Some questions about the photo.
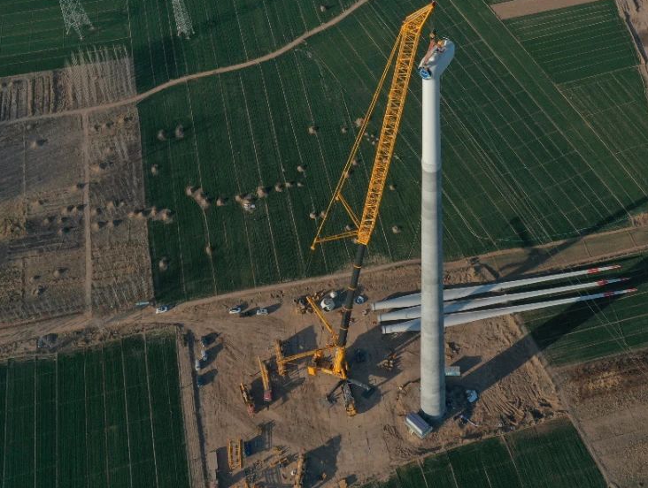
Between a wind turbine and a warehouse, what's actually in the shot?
wind turbine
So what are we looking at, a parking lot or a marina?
parking lot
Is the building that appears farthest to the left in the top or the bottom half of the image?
bottom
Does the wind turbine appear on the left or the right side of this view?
right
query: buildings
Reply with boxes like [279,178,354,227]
[444,363,464,377]
[404,412,432,442]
